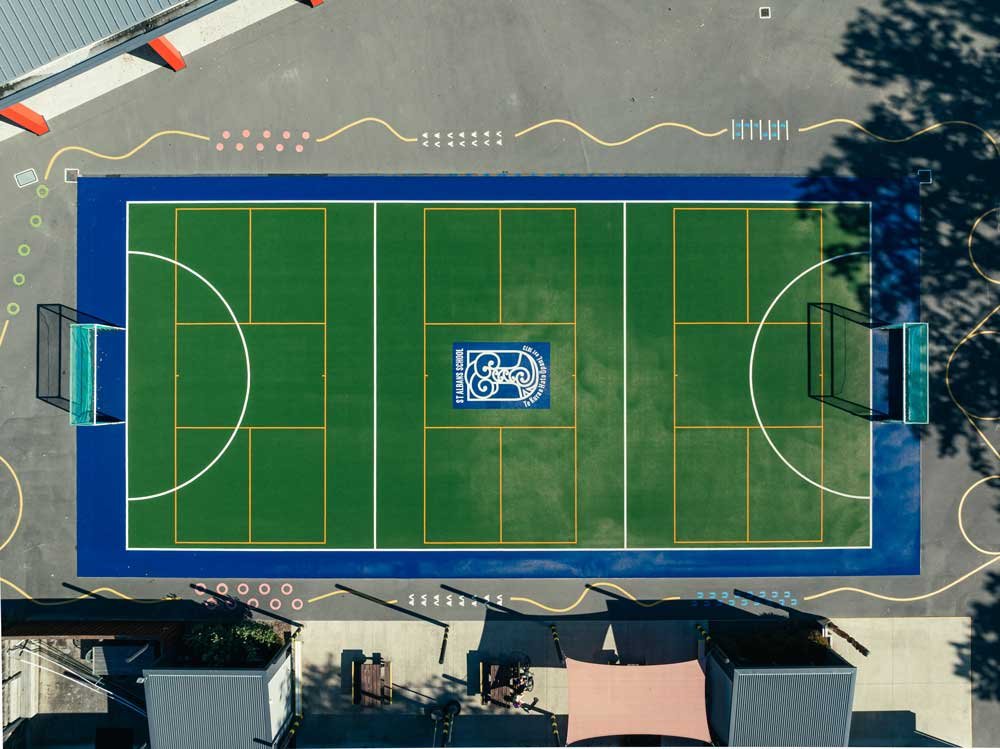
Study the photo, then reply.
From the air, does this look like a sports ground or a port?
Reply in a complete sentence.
It's a sports ground.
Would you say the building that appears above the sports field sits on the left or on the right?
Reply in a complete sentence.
The building that appears above the sports field appears in the left half of the scene.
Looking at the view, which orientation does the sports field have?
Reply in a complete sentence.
The sports field has been laid out horizontally relative to the frame.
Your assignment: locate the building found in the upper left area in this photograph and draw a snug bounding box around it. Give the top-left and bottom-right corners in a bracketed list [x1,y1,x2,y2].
[0,0,243,135]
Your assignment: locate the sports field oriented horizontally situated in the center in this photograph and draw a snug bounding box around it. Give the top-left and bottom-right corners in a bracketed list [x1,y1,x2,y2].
[128,203,871,548]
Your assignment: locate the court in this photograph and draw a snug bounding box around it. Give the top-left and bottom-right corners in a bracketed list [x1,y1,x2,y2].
[76,177,920,576]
